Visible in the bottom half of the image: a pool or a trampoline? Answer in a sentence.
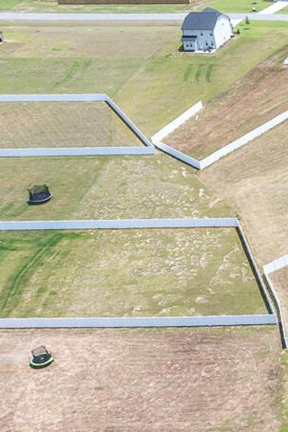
What appears in the bottom half of the image is a trampoline.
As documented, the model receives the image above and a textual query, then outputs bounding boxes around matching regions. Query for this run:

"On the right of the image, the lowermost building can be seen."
[175,7,235,53]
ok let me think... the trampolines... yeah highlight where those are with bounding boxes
[20,341,55,368]
[24,182,49,202]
